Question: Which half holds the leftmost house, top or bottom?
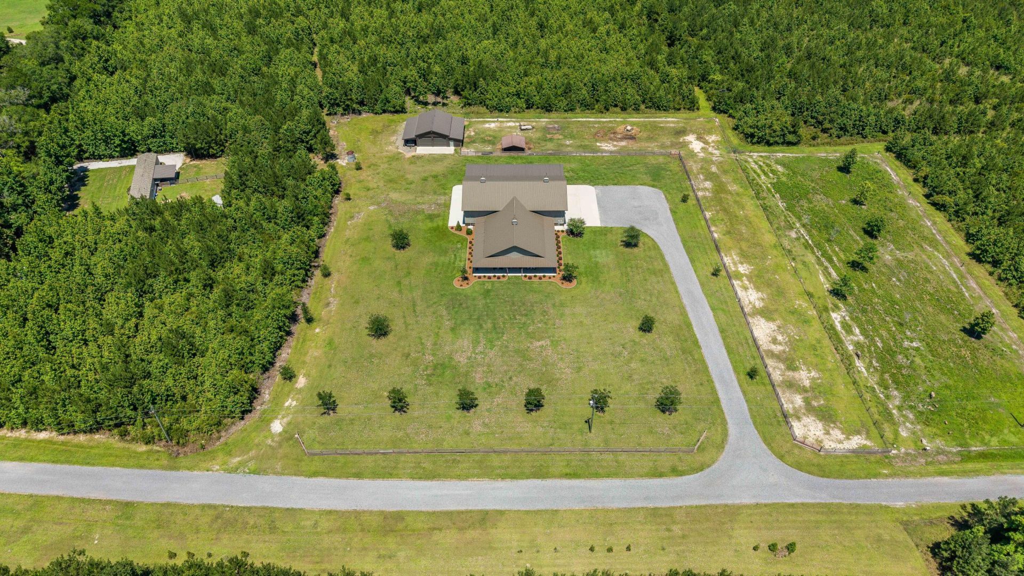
top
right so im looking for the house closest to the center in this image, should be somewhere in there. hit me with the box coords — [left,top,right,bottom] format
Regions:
[461,164,568,276]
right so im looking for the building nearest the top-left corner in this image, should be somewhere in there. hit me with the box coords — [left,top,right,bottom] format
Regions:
[128,154,181,204]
